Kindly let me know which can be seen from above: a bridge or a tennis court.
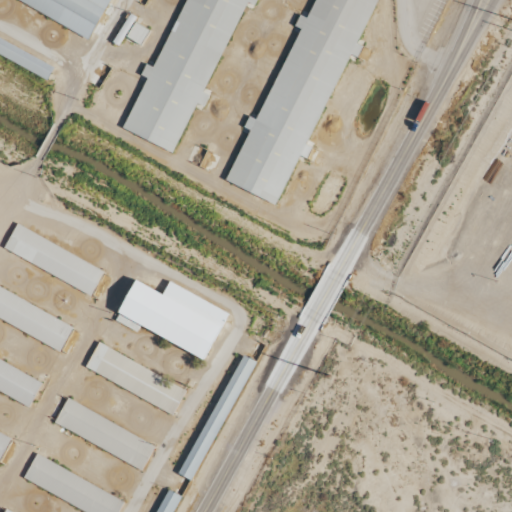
bridge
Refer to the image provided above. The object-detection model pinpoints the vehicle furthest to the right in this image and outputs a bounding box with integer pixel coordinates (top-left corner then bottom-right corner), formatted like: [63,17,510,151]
[408,101,427,130]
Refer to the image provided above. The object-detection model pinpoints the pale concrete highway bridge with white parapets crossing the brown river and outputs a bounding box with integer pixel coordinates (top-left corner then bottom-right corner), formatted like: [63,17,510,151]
[262,226,372,396]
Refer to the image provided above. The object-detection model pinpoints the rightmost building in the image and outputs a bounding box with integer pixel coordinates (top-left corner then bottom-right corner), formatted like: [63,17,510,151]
[226,0,377,204]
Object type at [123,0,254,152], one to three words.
barn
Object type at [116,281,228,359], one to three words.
barn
